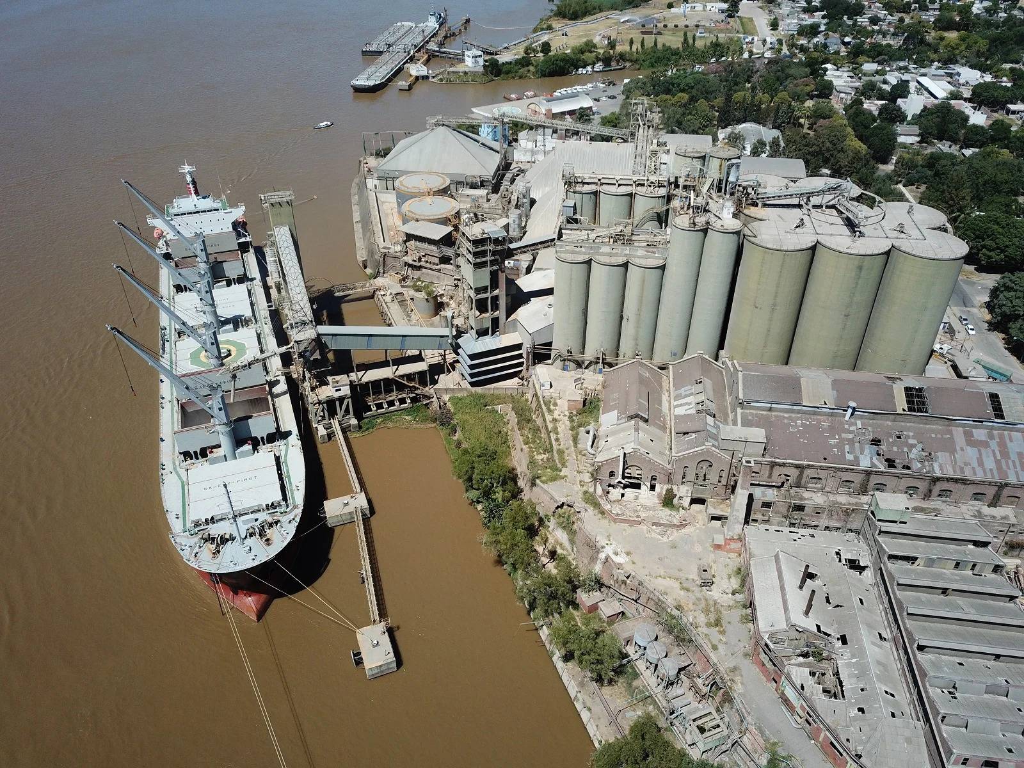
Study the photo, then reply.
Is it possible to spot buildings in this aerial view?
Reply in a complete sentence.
Yes, I can see a building in this picture.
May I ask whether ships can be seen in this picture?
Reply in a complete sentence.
Yes, a ship appears in the view.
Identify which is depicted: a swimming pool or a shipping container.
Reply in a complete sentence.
The one in the frame is a shipping container.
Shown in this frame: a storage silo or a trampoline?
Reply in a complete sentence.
The image shows a storage silo.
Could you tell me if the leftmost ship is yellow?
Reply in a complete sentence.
No, the color of the leftmost ship is white.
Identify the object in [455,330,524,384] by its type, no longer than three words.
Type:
building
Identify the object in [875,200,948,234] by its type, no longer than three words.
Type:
silo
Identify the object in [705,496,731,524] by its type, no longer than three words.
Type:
building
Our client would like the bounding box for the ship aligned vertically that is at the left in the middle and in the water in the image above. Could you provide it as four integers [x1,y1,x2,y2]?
[96,152,307,621]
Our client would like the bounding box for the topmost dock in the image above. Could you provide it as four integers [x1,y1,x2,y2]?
[397,0,500,95]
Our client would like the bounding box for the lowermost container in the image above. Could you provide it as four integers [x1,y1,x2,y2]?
[973,356,1015,384]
